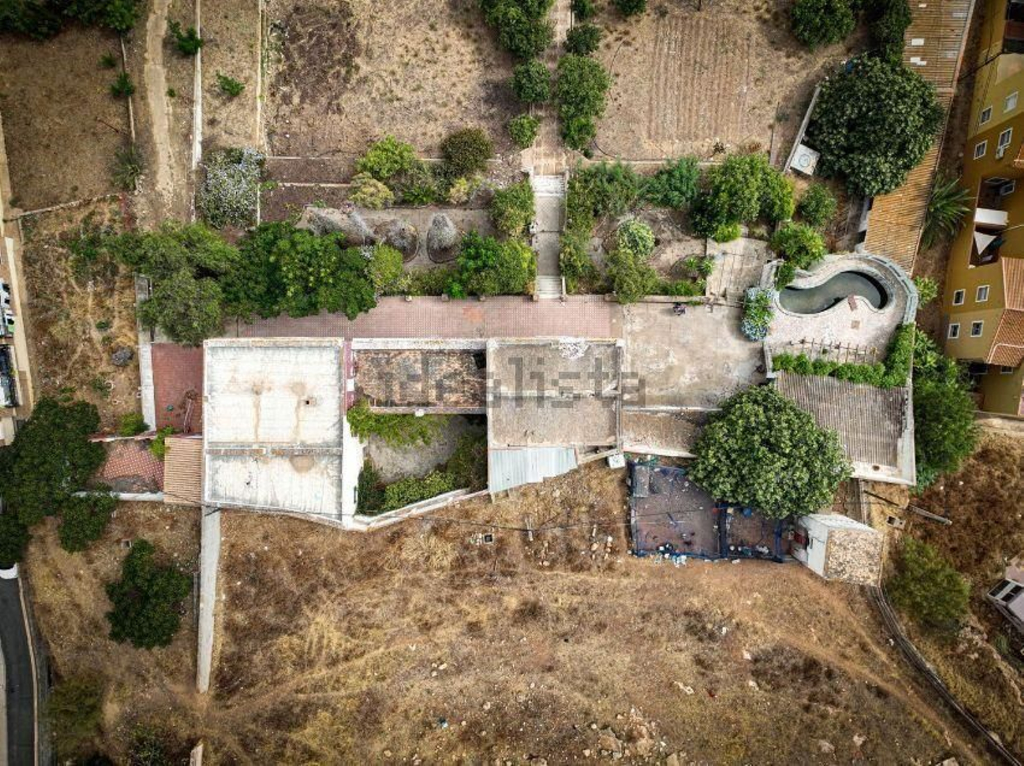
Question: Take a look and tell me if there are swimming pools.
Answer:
Yes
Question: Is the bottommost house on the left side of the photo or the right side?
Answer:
right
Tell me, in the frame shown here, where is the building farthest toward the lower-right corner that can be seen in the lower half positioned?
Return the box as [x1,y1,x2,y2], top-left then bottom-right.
[973,551,1024,640]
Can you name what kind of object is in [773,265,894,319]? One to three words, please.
swimming pool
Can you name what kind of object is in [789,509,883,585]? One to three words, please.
shed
